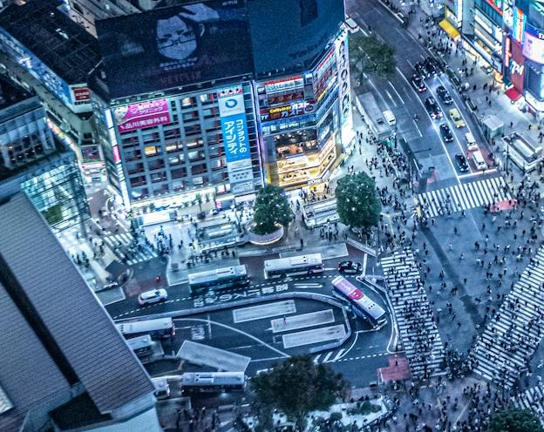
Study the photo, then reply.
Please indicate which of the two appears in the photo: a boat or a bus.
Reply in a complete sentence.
Looking from above, you can make out a bus.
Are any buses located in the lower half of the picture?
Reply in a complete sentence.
Yes, the scene does show a bus in the lower half of the picture.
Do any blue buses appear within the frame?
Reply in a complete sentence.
Yes, you can see a blue bus in this photo.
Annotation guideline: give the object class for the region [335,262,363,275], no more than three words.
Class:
vehicle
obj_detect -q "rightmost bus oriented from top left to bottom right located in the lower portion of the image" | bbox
[333,275,388,328]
